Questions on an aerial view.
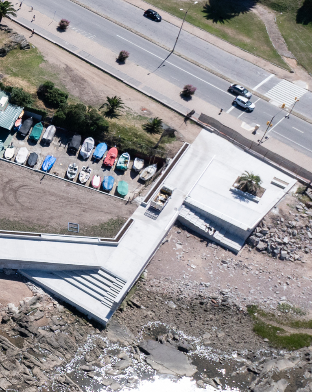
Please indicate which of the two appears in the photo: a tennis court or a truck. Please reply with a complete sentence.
There is a truck in the scene.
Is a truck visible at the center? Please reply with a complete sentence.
Yes, a truck shows up at the center.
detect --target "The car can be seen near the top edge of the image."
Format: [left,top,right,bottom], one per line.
[141,7,167,23]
